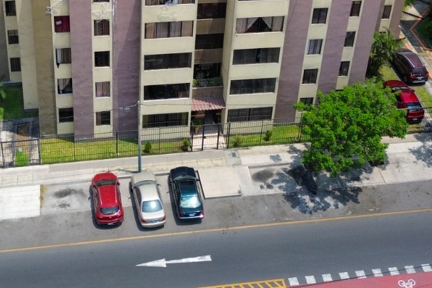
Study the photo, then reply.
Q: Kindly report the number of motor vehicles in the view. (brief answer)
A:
5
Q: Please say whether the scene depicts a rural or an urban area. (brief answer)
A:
urban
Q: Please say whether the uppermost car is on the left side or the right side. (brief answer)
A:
right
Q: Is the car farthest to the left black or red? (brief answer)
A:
red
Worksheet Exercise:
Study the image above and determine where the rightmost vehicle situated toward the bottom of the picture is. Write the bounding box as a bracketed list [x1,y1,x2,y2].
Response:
[173,164,212,220]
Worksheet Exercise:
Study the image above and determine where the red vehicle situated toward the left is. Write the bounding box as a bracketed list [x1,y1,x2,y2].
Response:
[86,171,121,225]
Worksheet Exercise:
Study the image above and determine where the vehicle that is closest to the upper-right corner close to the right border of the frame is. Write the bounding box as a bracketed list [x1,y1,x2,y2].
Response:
[384,40,425,78]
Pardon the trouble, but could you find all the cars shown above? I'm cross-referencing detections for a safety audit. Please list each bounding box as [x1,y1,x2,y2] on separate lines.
[173,164,212,220]
[86,171,121,225]
[382,77,426,116]
[130,168,166,224]
[384,40,425,78]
